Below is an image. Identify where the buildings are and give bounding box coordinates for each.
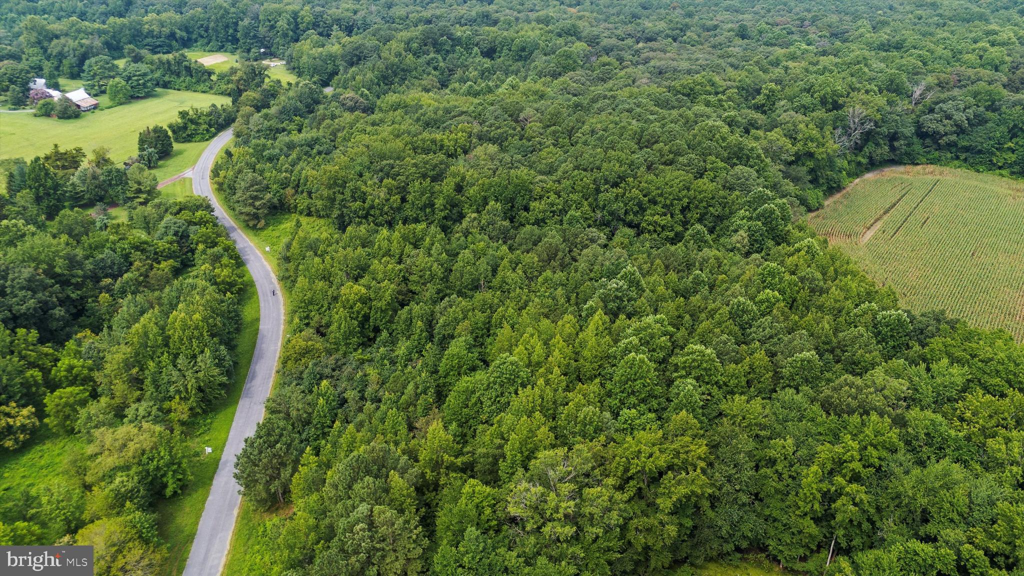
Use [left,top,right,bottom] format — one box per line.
[59,91,99,112]
[28,77,62,94]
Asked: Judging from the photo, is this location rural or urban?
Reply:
rural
